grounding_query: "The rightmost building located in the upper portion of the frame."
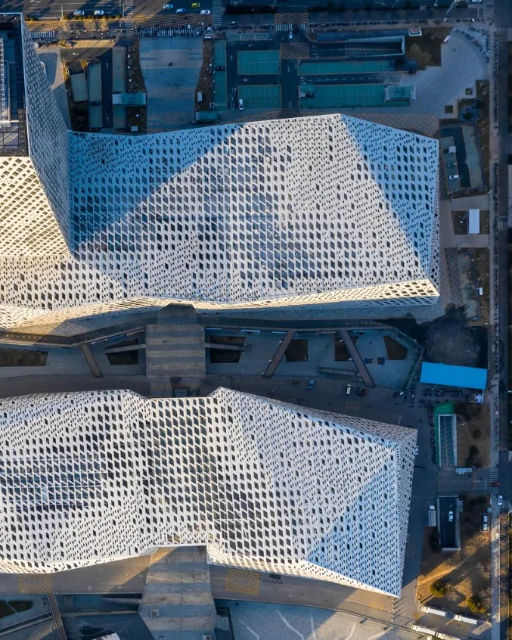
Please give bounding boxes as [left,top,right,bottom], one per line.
[467,208,480,235]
